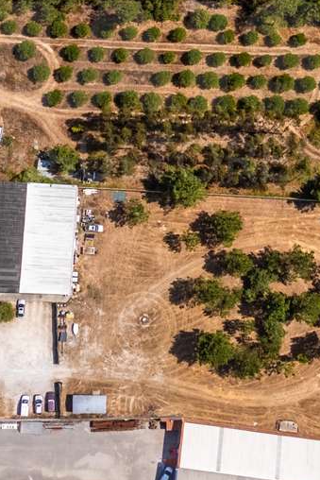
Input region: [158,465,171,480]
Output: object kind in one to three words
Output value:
vehicle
